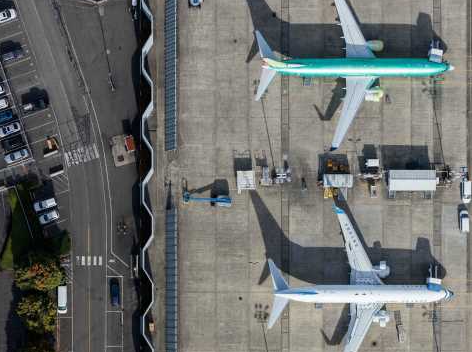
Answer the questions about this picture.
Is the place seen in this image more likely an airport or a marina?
airport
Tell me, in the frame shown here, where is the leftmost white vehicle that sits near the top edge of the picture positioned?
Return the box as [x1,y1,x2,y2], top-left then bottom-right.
[0,10,16,24]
